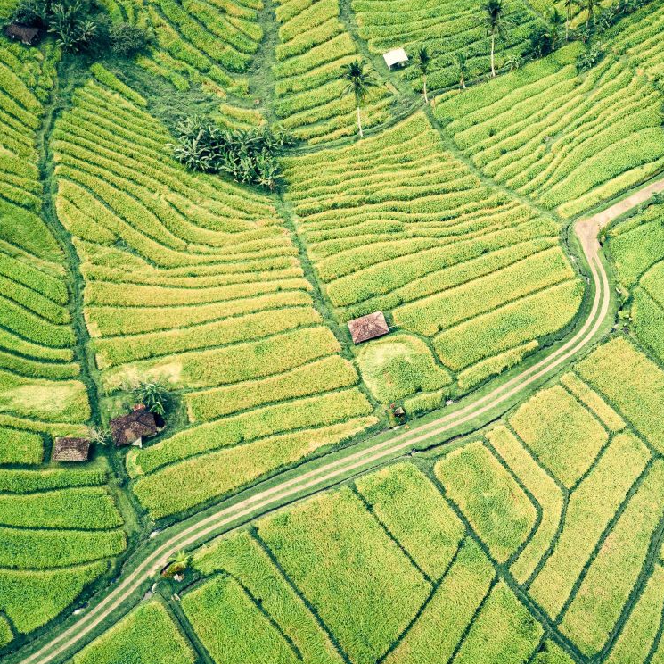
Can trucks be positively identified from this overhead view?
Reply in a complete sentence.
No, there is no truck in the image.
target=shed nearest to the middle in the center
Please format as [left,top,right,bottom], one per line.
[347,312,389,346]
